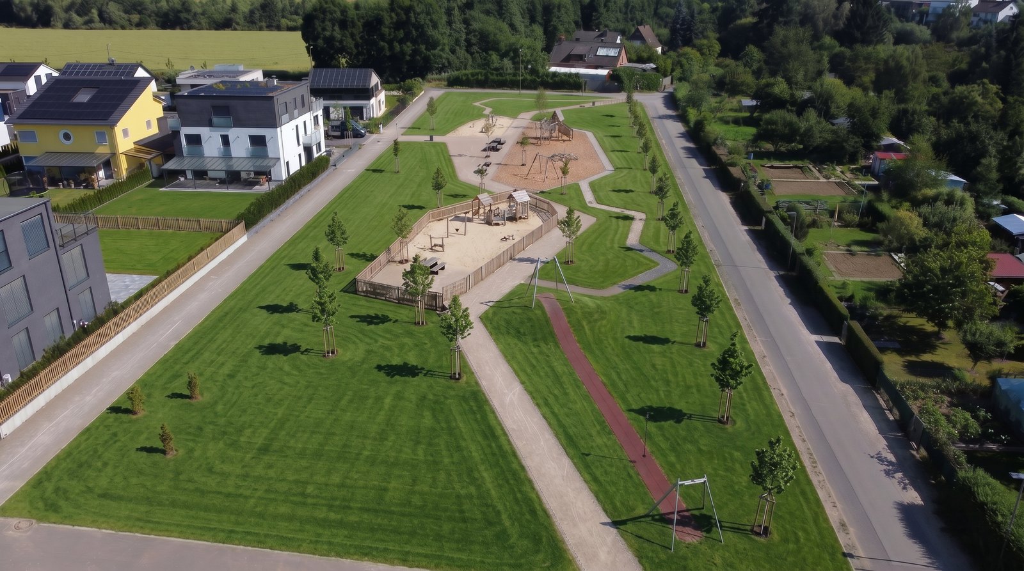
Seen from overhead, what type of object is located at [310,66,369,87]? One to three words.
solar array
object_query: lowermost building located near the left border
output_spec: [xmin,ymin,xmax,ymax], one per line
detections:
[0,195,113,385]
